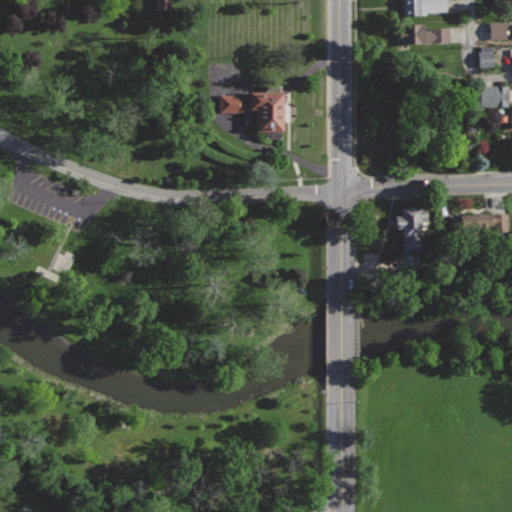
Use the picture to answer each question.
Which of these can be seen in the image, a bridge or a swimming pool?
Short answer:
bridge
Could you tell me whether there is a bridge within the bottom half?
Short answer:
Yes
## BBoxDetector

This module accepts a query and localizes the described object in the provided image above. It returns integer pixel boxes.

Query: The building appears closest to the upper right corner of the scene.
[490,22,512,40]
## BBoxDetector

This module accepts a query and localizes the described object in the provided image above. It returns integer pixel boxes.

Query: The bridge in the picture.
[326,309,361,387]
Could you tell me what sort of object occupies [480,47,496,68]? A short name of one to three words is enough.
house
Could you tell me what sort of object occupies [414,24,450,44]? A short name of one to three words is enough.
house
